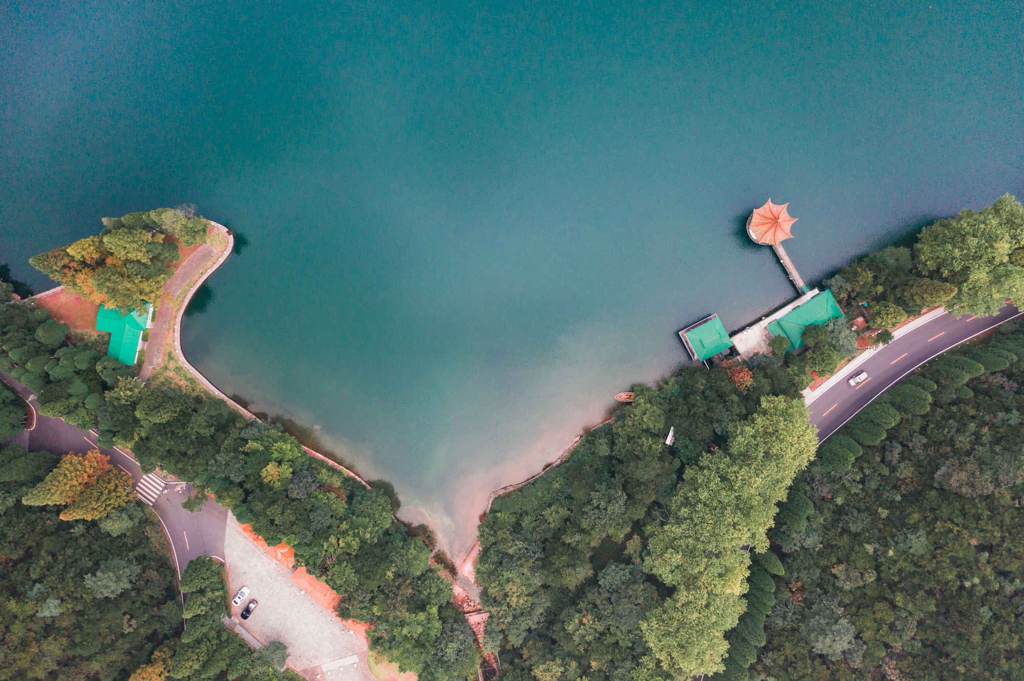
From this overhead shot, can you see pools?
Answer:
No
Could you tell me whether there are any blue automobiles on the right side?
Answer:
No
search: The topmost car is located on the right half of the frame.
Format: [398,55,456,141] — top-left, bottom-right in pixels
[849,371,871,387]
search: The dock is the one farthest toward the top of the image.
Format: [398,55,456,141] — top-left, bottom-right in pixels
[772,242,808,289]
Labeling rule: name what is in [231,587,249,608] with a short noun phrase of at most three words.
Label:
car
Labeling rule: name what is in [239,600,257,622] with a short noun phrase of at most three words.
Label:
car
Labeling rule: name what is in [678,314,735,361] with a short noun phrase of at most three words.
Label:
building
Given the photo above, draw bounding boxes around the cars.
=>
[231,587,249,608]
[849,371,871,387]
[239,600,257,622]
